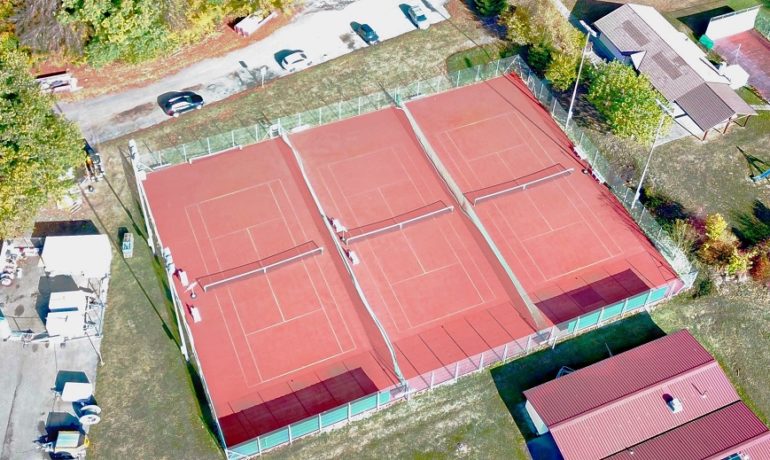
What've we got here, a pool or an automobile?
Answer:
automobile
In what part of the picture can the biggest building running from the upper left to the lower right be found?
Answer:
top right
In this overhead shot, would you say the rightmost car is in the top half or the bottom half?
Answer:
top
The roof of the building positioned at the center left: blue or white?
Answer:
white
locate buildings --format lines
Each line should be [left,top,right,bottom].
[523,325,770,460]
[591,3,759,143]
[41,235,113,280]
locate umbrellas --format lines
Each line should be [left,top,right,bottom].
[723,65,757,91]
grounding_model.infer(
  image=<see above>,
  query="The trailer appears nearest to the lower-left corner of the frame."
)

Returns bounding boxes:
[44,430,84,455]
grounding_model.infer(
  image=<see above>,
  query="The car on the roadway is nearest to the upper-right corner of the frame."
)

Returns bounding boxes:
[405,4,432,27]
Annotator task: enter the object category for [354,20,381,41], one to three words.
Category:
car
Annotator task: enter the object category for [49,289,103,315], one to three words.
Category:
trailer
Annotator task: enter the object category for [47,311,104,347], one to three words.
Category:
trailer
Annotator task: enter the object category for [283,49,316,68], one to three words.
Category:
car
